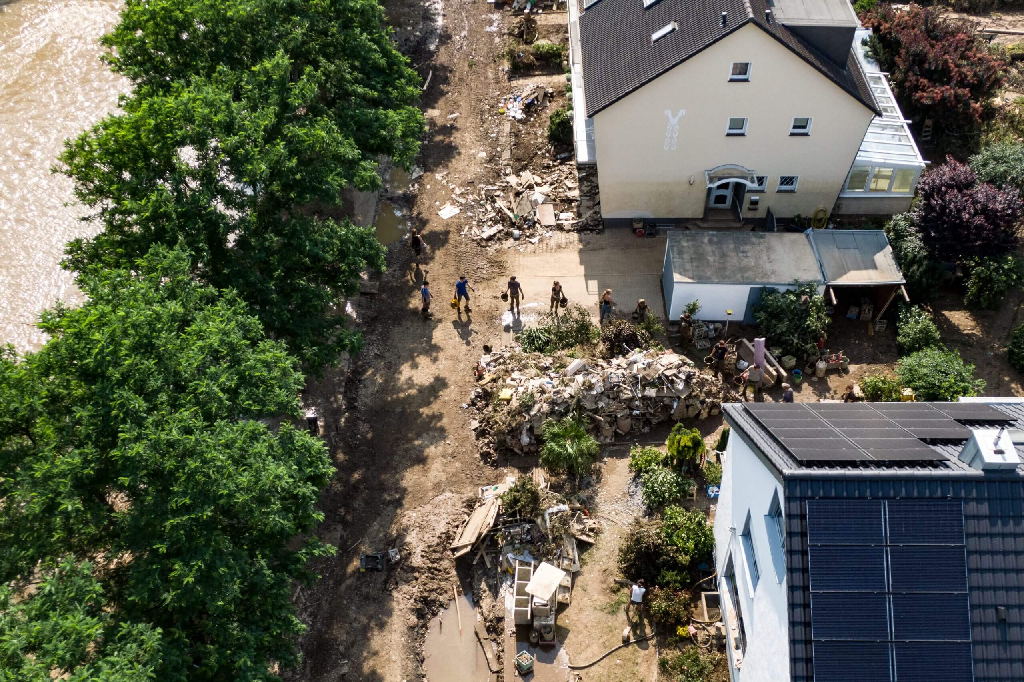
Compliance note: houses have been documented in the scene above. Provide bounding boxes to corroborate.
[702,392,1024,682]
[576,0,889,229]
